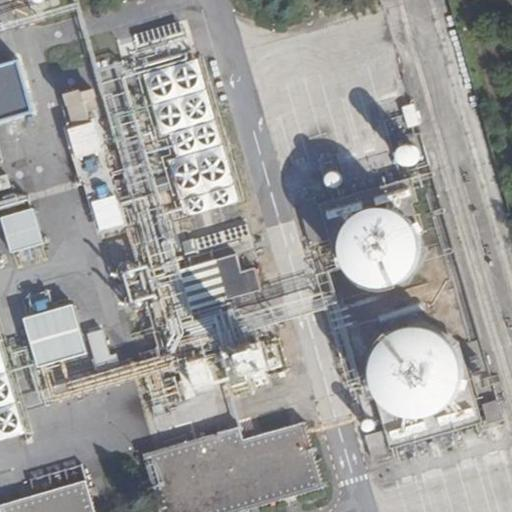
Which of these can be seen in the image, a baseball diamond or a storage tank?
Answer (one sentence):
Of the two, only a storage tank appears.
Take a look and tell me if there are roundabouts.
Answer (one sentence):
No, the frame has no roundabout in it.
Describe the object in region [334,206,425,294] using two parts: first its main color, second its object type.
white storage tank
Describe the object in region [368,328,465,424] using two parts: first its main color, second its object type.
white storage tank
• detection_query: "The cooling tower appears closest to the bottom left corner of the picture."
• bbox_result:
[0,405,28,438]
